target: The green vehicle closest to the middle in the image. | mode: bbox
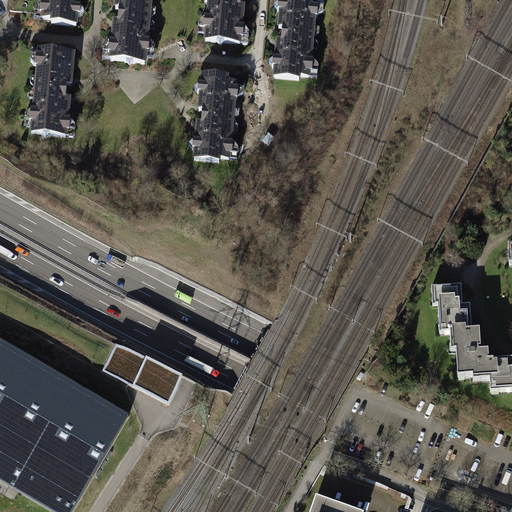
[174,291,193,306]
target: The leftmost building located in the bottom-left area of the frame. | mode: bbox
[0,338,130,512]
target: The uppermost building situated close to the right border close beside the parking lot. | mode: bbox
[430,282,512,395]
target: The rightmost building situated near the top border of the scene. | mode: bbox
[268,0,320,79]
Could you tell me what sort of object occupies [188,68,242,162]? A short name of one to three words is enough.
house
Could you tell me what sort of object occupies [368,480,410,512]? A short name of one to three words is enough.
building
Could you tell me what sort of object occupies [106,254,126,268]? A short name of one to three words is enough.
vehicle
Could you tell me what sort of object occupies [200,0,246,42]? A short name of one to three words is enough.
house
